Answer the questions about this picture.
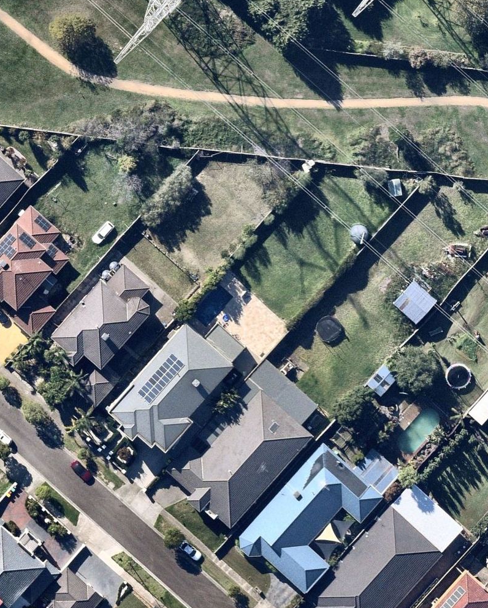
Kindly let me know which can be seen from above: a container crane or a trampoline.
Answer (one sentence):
This aerial view contains a trampoline.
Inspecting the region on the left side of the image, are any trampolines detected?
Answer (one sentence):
No, no trampoline is visible on the left side of the image.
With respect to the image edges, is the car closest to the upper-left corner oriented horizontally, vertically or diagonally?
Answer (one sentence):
The car closest to the upper-left corner is oriented diagonally.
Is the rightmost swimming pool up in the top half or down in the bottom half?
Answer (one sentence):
You can find the rightmost swimming pool in the bottom half.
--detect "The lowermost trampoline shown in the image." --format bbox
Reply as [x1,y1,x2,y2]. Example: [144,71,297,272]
[446,364,471,389]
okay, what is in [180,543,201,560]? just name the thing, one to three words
car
